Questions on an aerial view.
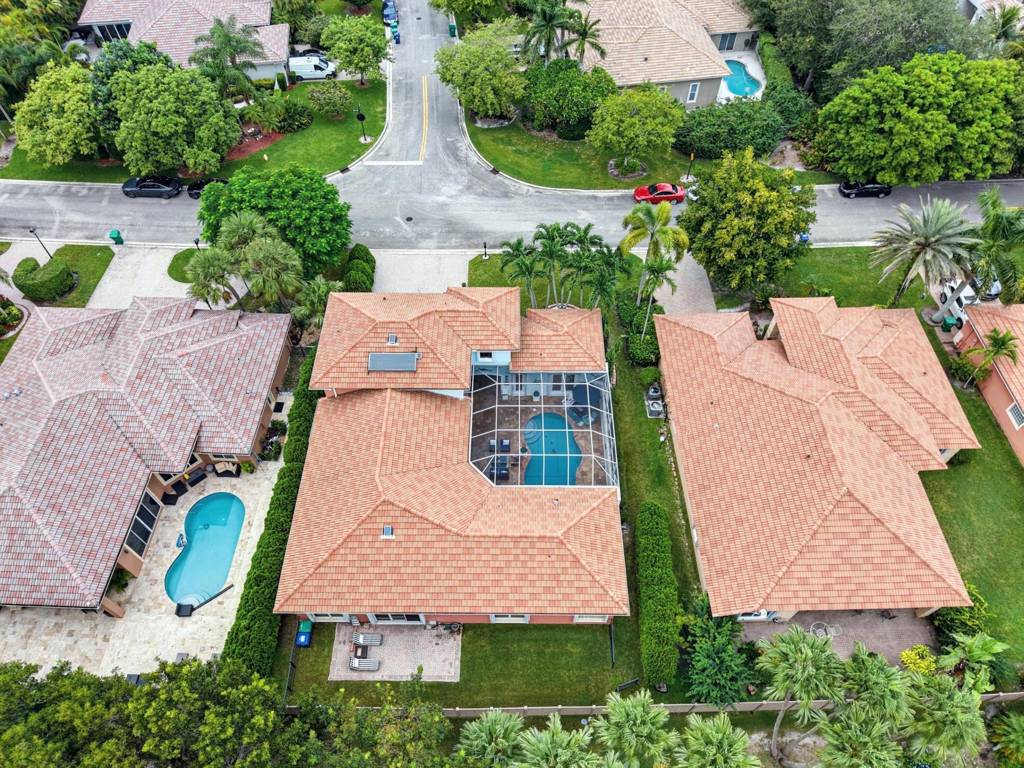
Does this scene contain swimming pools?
Yes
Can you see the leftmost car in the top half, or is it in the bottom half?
top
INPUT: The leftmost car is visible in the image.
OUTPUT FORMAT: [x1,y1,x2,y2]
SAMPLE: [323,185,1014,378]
[120,175,177,198]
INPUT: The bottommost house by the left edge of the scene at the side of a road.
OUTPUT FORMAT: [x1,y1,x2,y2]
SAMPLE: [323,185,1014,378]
[0,294,292,619]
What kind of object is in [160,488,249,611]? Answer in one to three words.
swimming pool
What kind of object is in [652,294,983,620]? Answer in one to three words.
house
